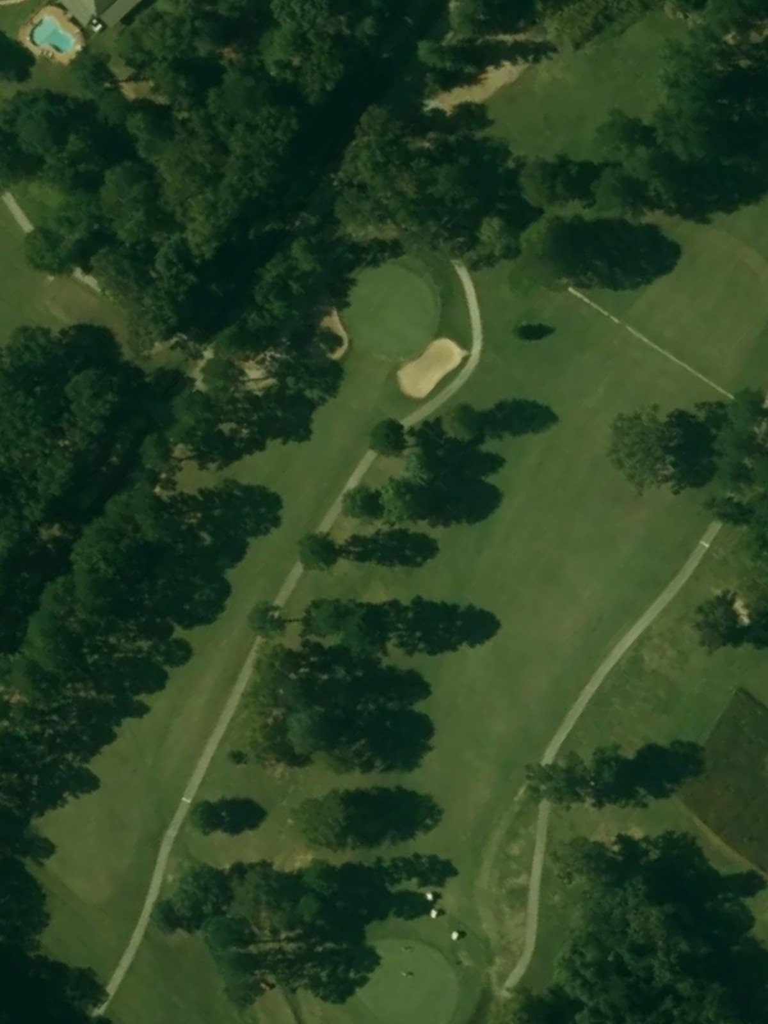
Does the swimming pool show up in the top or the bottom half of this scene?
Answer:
top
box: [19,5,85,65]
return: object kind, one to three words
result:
swimming pool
